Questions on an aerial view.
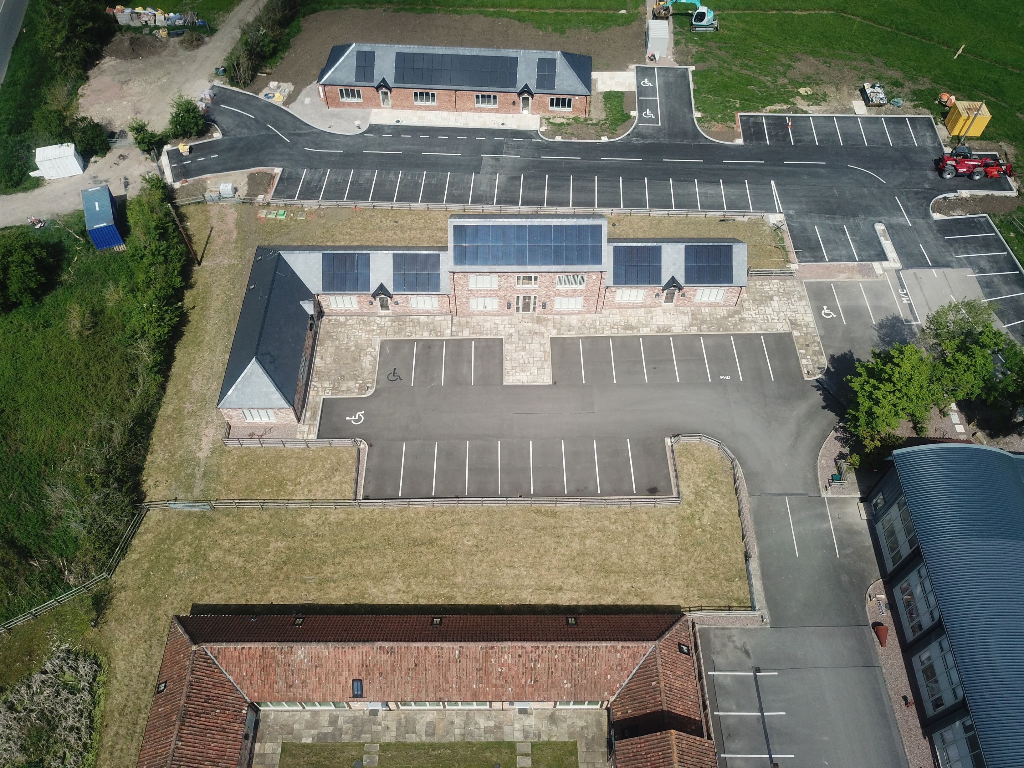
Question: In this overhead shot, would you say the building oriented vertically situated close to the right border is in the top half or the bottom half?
bottom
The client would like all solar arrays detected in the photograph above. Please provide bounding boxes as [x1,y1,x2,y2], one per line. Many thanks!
[453,224,602,265]
[614,245,662,284]
[685,245,733,283]
[354,50,375,82]
[536,56,556,88]
[321,253,370,292]
[392,253,440,292]
[394,52,518,87]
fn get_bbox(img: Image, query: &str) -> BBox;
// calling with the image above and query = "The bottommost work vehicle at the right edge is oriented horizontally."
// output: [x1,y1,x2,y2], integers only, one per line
[937,146,1008,179]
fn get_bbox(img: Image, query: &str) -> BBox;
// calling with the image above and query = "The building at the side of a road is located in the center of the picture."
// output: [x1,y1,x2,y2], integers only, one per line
[216,213,746,423]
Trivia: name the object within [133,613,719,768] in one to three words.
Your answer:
barn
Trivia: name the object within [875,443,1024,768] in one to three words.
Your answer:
building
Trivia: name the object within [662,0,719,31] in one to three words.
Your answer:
work vehicle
